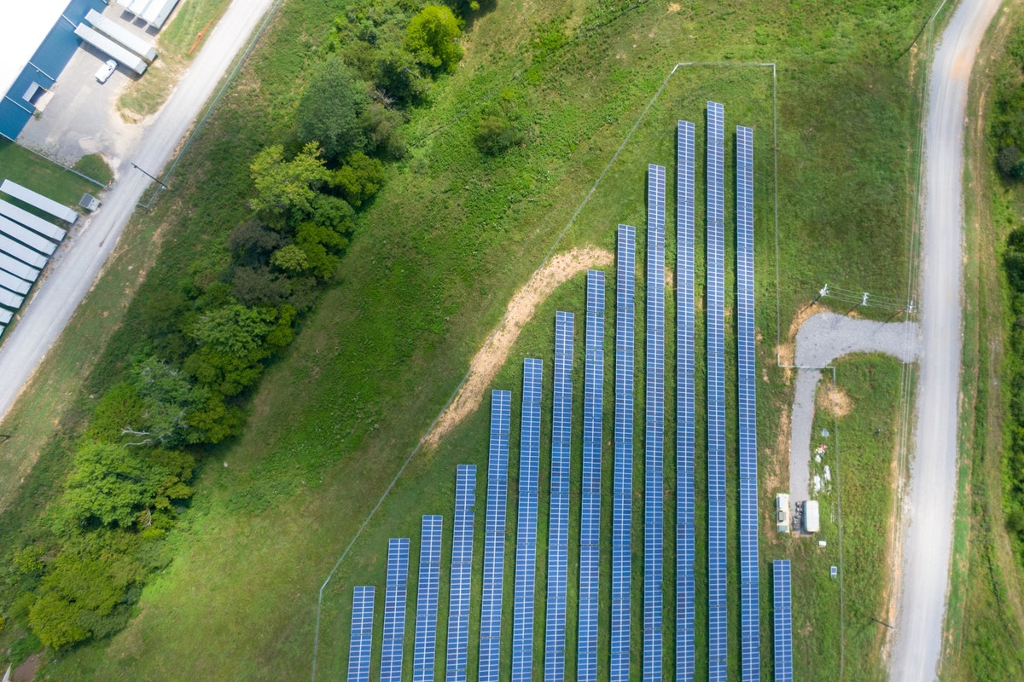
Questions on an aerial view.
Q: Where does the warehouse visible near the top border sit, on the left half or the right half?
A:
left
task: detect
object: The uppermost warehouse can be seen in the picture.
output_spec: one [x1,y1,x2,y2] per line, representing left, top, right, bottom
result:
[0,0,112,139]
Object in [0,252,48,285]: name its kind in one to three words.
trailer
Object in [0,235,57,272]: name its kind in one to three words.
trailer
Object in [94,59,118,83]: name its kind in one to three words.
truck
